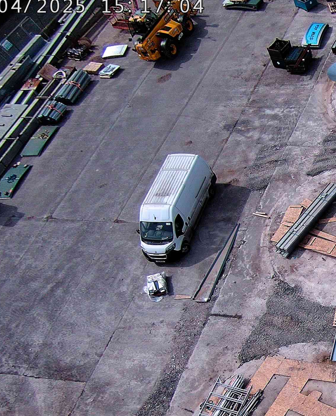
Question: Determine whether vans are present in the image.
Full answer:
Yes, this view includes a van.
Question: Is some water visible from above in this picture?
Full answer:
No, there is no water in the image.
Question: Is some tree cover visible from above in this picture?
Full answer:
No, there is no tree cover in the image.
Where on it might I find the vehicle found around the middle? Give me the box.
[140,152,218,264]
